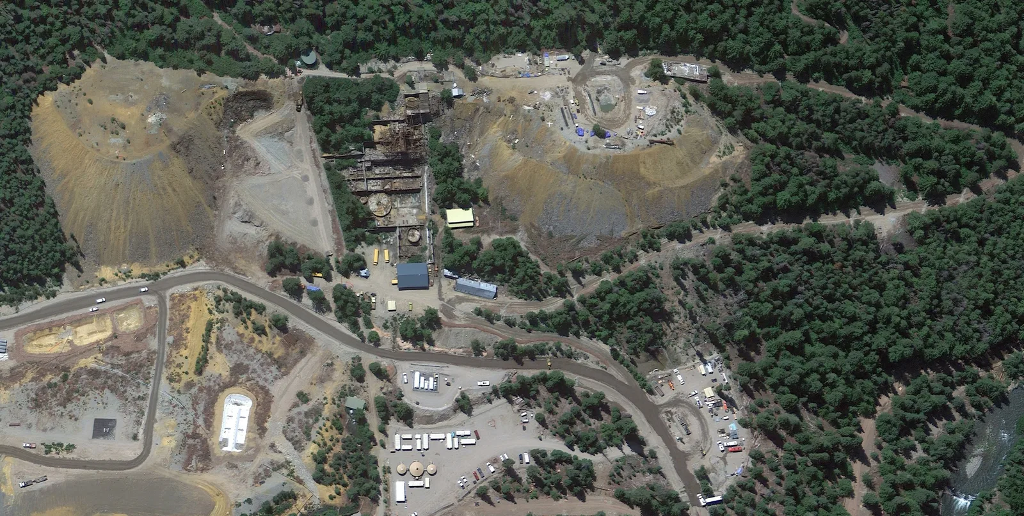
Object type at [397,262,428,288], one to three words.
building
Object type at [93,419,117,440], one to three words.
helipad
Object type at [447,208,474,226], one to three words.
shed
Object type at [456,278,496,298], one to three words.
shed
